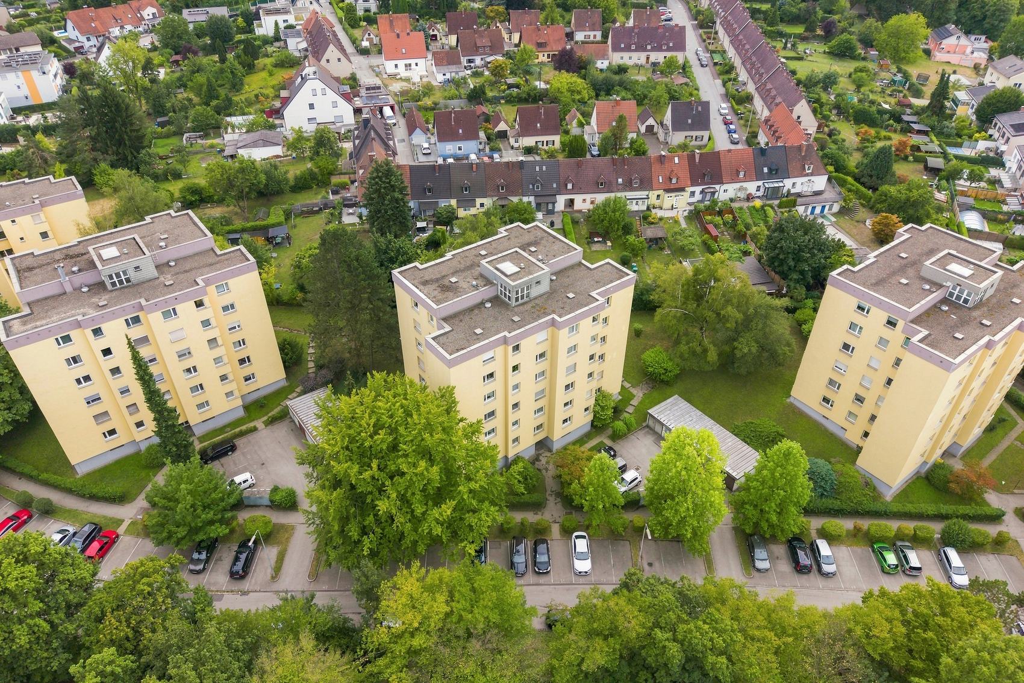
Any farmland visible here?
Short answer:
No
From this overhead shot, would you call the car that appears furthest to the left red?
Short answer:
Yes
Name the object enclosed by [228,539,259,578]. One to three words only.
car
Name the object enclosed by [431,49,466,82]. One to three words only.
shed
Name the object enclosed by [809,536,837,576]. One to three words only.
car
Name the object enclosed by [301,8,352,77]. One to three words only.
house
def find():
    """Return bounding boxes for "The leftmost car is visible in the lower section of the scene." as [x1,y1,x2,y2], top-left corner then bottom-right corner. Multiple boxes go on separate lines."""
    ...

[0,509,32,543]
